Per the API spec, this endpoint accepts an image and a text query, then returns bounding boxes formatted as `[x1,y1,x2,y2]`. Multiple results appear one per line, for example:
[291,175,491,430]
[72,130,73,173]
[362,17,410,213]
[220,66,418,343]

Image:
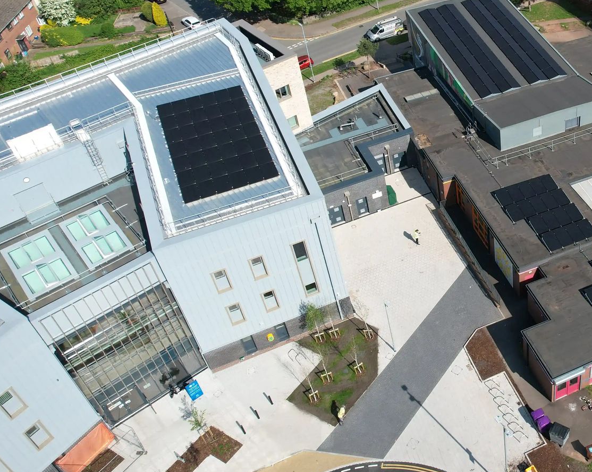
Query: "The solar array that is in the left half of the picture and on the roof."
[155,85,280,201]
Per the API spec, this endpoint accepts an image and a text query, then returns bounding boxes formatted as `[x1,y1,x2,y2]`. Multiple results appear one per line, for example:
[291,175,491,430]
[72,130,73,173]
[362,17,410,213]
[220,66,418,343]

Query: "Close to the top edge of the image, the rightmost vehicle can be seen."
[367,13,407,40]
